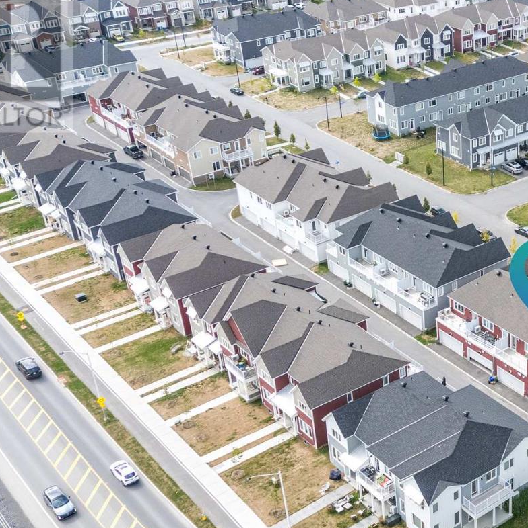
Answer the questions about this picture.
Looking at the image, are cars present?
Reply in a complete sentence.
Yes, looking at the shot, I can spot a car.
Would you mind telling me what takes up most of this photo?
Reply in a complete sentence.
For the most part, this view shows buildings.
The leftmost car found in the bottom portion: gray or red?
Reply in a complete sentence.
The color of the leftmost car found in the bottom portion is gray.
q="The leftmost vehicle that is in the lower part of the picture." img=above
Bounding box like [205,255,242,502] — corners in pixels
[17,360,41,381]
